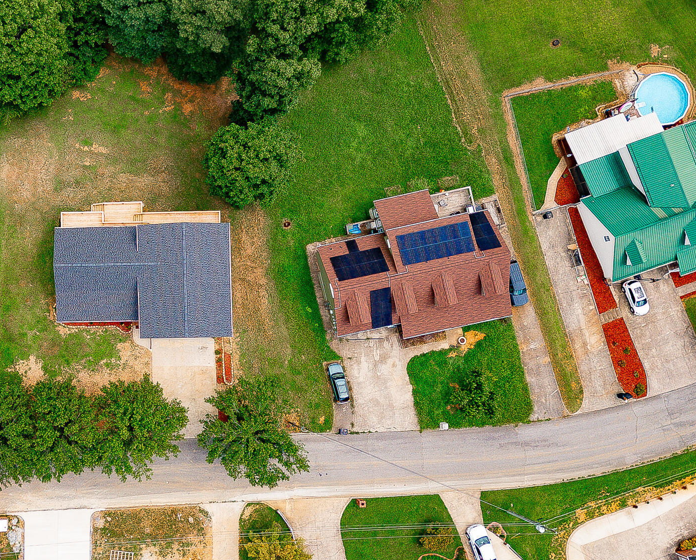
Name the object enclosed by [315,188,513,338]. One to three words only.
house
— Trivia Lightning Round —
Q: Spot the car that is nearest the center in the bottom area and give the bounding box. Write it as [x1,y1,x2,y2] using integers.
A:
[327,361,352,406]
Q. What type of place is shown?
residential area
